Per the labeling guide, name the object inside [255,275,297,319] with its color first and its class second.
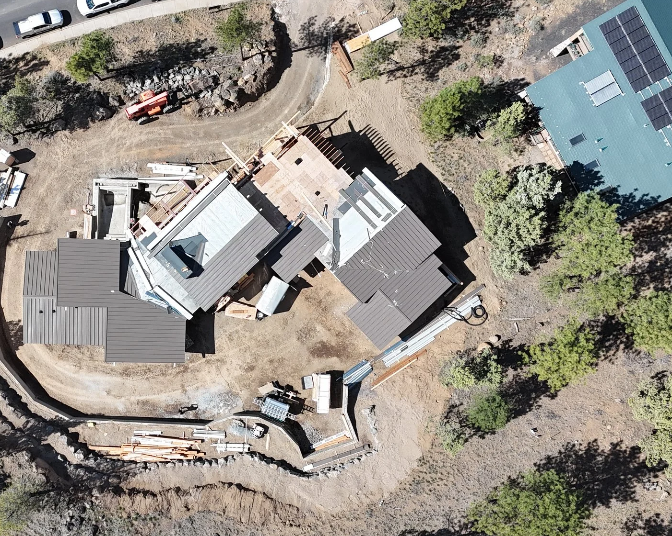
white trailer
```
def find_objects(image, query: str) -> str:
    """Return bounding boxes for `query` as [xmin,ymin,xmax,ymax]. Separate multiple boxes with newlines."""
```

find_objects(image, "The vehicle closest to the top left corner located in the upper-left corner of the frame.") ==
[11,8,64,41]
